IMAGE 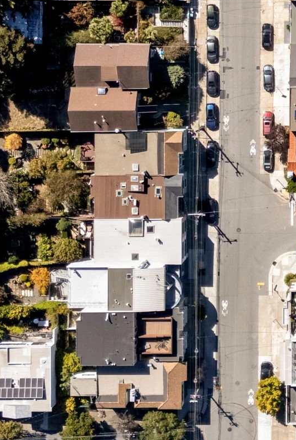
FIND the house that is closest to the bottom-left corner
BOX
[0,337,60,421]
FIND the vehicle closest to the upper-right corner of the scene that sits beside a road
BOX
[262,23,274,50]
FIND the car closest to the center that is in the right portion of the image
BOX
[207,199,219,226]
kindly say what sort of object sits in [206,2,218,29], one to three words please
vehicle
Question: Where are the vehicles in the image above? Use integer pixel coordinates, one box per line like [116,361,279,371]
[206,36,218,62]
[206,142,218,169]
[262,147,274,172]
[262,23,274,50]
[207,70,219,97]
[260,358,272,384]
[207,199,219,226]
[206,2,218,29]
[206,102,217,129]
[263,64,275,91]
[260,108,274,139]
